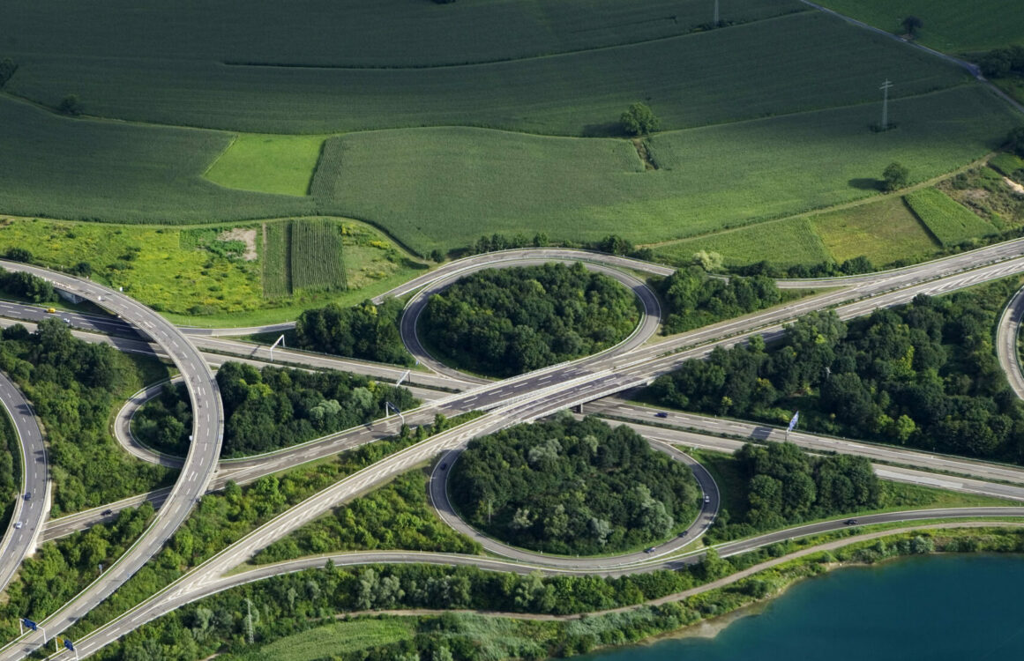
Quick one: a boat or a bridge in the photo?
bridge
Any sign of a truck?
No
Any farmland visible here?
Yes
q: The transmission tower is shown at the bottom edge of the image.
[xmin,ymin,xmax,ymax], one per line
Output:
[243,598,255,644]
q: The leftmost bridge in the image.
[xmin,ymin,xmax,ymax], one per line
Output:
[0,488,51,567]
